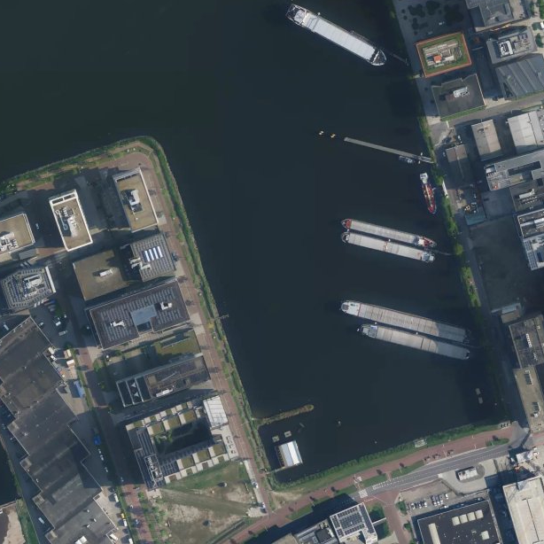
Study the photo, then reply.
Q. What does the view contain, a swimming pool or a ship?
ship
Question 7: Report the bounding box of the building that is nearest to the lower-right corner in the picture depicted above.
[503,476,544,544]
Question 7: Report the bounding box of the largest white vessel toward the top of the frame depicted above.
[288,4,387,63]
